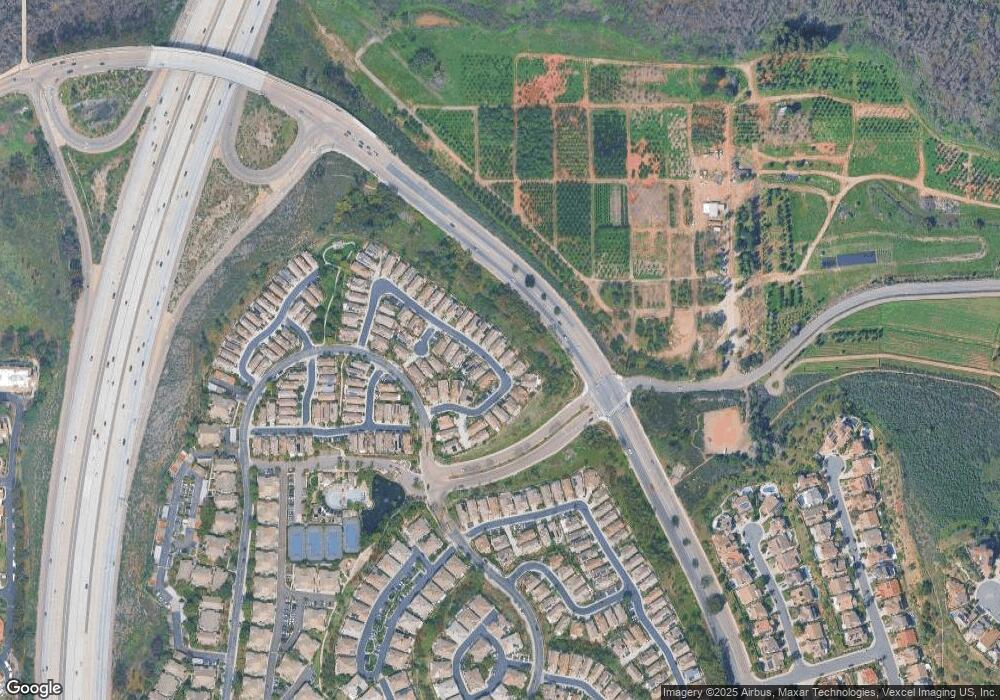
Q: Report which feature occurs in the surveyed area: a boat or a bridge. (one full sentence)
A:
Of the two, only a bridge appears.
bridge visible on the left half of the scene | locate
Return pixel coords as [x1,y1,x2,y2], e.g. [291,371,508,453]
[149,46,266,92]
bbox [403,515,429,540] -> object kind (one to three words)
house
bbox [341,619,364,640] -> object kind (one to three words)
house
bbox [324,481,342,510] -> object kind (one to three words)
swimming pool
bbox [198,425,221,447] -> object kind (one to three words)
building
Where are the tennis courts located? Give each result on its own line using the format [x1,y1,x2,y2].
[343,518,359,554]
[288,525,305,560]
[325,525,342,560]
[306,525,323,560]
